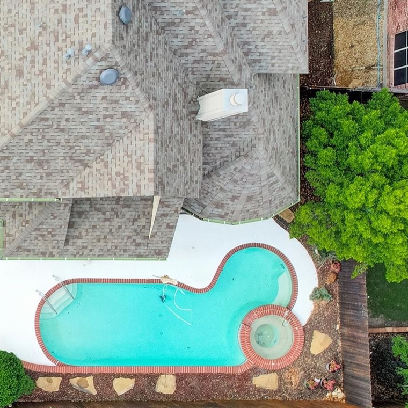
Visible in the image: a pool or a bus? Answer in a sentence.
The one in the frame is a pool.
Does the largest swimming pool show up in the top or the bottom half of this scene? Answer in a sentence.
Seen from above, the largest swimming pool lies in the bottom half of the view.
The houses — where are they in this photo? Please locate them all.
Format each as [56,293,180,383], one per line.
[0,0,335,262]
[385,0,408,88]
